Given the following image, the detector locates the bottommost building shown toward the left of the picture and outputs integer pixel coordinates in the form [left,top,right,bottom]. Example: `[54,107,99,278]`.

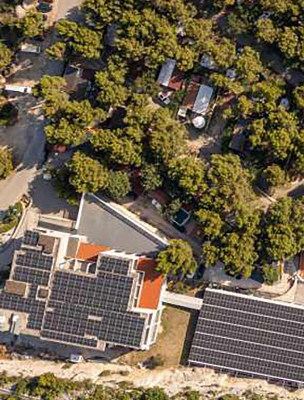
[0,227,178,353]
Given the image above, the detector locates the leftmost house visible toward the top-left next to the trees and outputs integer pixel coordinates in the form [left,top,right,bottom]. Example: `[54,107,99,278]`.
[65,68,86,91]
